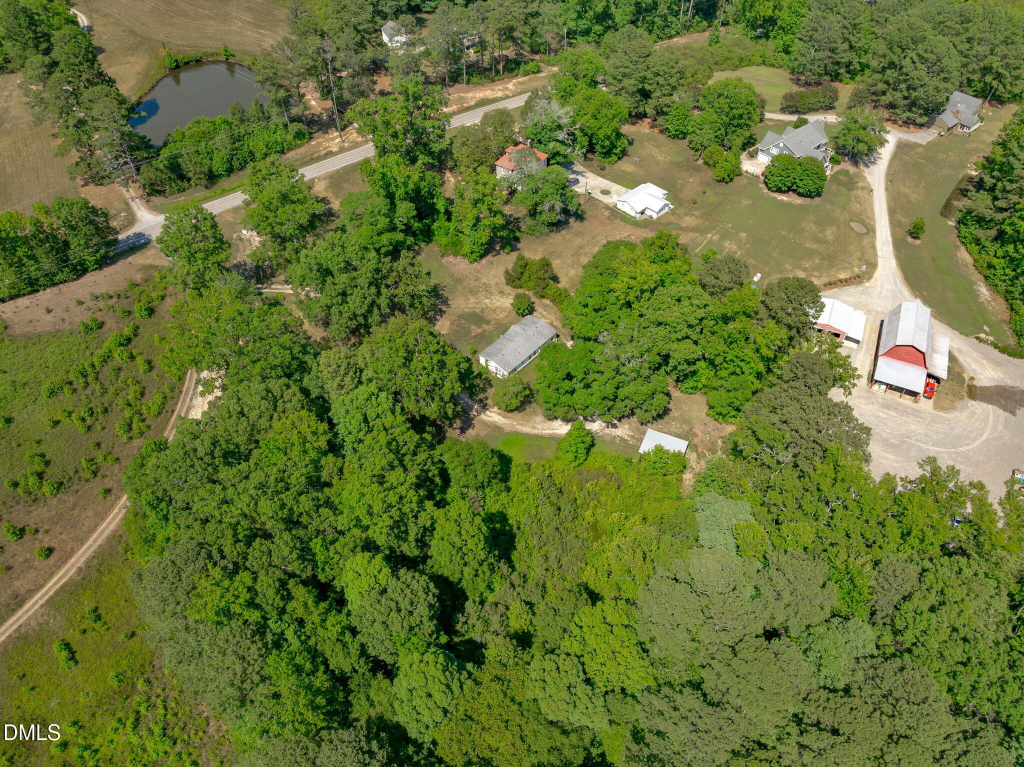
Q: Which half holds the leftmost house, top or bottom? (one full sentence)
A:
The leftmost house sits in the top half of the picture.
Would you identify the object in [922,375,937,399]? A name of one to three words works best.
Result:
vehicle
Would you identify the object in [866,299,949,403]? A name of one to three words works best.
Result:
barn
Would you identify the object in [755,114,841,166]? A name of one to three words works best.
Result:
house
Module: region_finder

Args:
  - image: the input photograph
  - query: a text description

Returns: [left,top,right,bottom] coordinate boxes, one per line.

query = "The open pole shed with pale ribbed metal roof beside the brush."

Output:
[637,429,689,461]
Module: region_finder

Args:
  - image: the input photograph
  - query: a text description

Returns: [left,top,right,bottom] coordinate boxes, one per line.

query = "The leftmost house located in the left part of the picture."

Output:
[382,17,413,47]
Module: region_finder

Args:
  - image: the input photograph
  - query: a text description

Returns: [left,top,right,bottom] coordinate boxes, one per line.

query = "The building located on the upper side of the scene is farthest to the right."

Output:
[929,91,986,136]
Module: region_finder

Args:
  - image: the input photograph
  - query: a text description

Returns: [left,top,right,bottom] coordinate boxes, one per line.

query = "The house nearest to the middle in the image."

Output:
[478,316,558,381]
